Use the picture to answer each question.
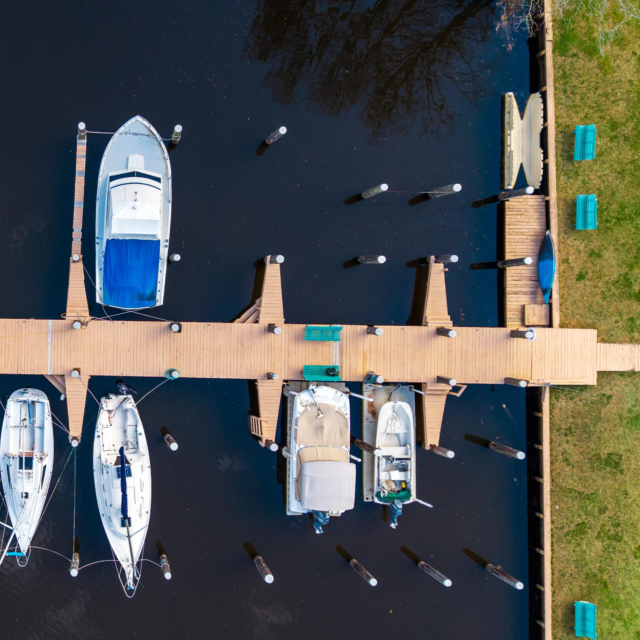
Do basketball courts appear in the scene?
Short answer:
No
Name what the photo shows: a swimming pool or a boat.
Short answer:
boat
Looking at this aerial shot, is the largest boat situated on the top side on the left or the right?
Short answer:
left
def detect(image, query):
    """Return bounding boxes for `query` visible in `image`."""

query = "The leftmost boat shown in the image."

[0,387,55,569]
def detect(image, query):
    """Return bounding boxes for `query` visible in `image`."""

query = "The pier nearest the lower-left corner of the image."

[42,375,88,439]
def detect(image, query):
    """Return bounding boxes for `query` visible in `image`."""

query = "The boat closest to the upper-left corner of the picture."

[95,114,173,309]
